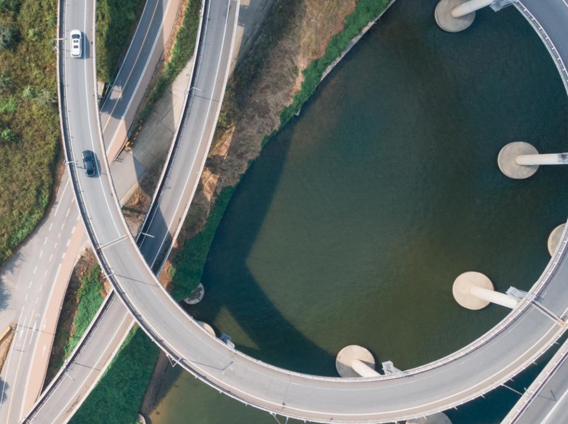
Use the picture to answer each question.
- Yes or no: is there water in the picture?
Yes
